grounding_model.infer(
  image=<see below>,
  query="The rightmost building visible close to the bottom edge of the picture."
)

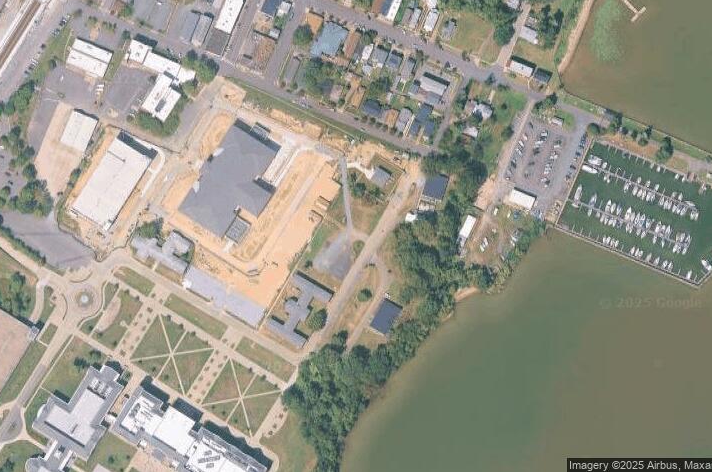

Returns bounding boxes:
[112,387,267,472]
